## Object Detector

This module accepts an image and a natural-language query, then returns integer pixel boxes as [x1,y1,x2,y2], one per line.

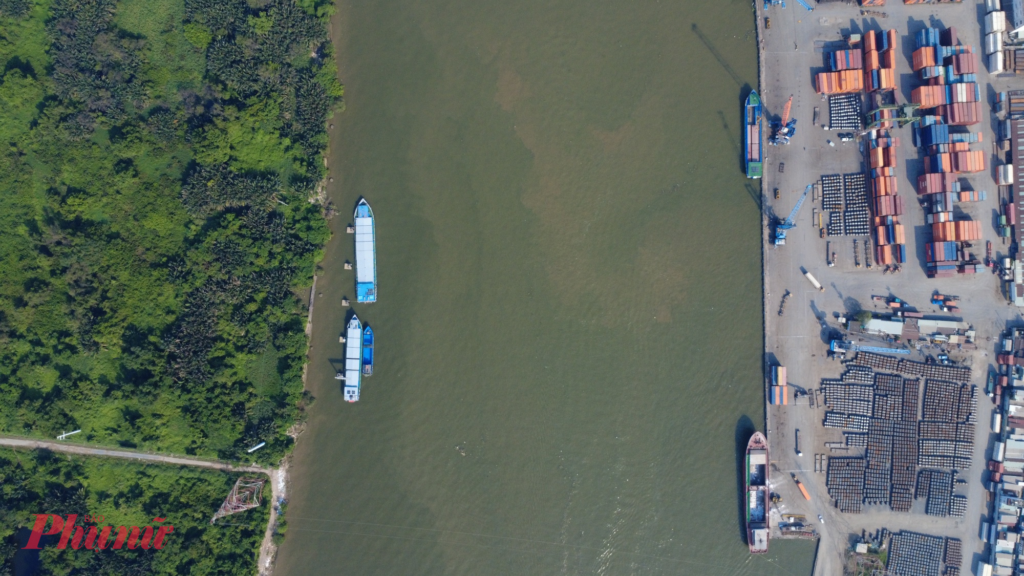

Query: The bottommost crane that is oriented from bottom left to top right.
[765,185,811,242]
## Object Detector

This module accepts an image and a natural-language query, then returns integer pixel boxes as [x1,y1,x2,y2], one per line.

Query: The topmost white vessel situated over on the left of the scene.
[354,198,377,302]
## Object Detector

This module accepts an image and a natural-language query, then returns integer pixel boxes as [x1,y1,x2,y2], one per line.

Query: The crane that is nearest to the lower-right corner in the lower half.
[829,340,912,360]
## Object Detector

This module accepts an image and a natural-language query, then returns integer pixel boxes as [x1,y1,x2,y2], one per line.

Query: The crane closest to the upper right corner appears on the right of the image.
[864,102,925,129]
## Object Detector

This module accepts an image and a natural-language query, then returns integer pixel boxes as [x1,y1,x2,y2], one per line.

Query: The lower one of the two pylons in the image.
[855,555,894,576]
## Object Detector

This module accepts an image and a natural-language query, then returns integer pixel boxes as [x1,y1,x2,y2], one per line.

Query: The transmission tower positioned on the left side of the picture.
[210,482,259,526]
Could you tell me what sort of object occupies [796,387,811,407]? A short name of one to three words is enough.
work vehicle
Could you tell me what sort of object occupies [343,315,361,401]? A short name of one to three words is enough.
ship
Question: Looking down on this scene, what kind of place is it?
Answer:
port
